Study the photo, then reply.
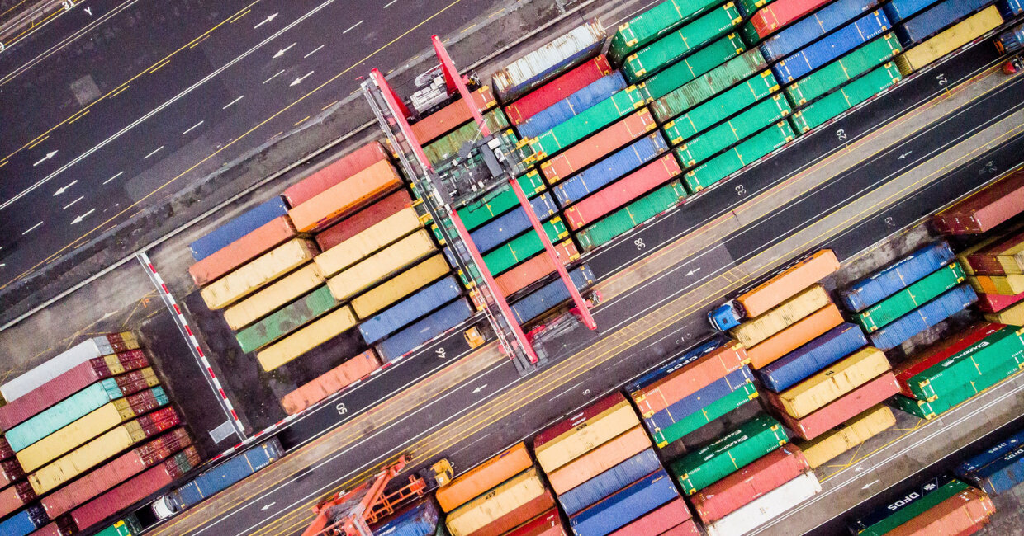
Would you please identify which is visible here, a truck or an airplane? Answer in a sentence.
It is a truck that can be seen here.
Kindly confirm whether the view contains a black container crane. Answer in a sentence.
No, this view has no black container crane in it.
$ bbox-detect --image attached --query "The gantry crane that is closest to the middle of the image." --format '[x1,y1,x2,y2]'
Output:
[346,34,604,381]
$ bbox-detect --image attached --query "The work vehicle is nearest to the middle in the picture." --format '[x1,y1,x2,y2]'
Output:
[454,318,496,353]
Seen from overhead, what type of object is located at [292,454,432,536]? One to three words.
container crane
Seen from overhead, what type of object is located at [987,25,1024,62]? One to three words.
truck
